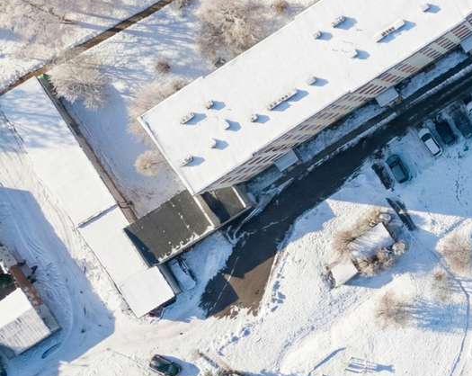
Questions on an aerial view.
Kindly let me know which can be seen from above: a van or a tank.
van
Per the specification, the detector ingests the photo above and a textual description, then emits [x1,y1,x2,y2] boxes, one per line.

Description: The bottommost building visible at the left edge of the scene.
[0,288,61,365]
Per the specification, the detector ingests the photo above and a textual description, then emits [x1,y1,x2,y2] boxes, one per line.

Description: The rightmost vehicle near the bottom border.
[149,356,183,375]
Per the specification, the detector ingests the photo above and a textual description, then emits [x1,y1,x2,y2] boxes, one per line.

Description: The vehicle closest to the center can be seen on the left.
[170,258,198,290]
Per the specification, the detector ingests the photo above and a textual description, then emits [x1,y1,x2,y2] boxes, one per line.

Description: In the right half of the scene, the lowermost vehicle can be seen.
[388,155,409,182]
